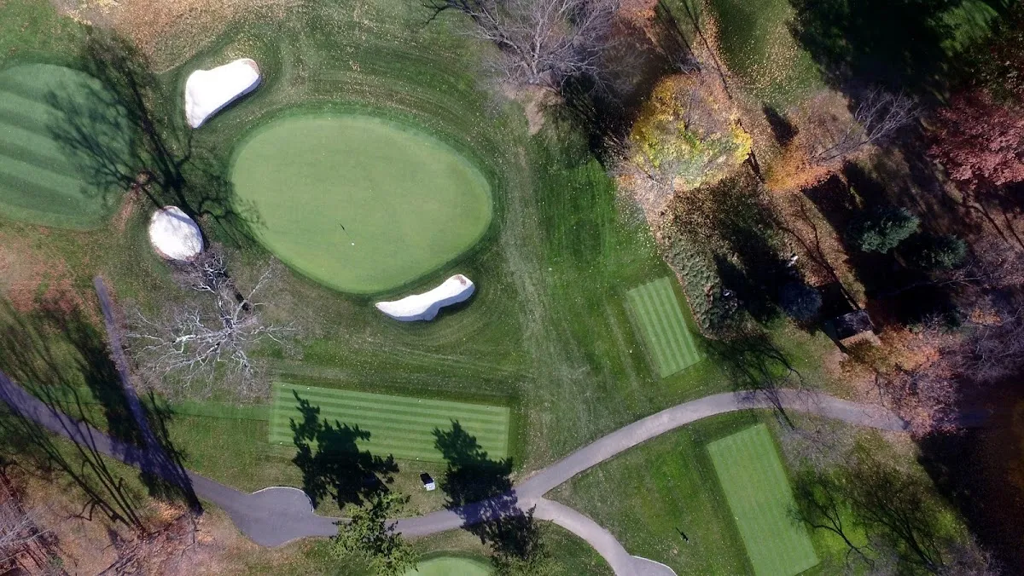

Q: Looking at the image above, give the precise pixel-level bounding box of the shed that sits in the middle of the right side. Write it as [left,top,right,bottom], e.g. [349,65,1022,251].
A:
[828,310,880,354]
